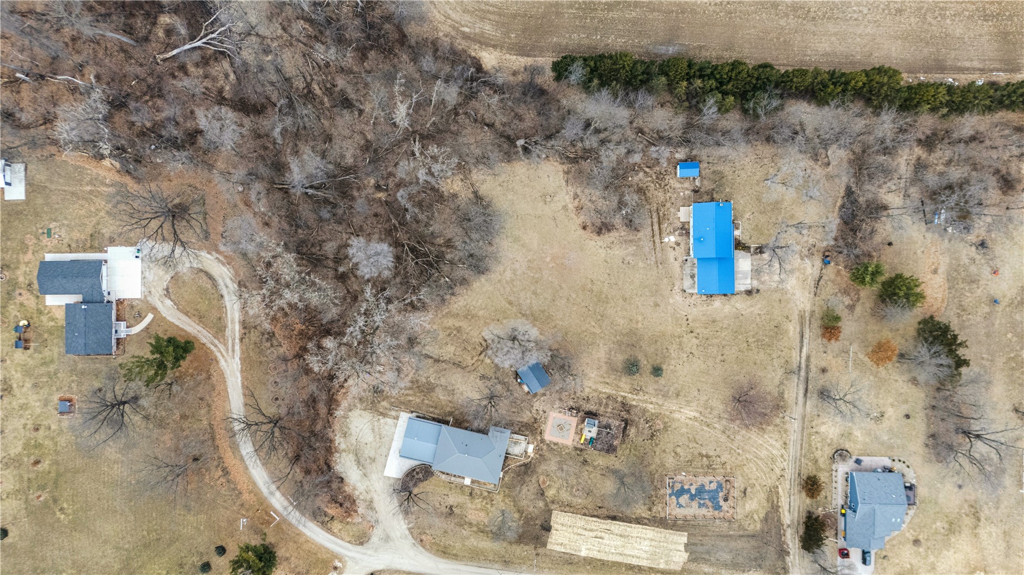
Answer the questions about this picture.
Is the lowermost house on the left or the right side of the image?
right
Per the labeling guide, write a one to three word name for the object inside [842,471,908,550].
house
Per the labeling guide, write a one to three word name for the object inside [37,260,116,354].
house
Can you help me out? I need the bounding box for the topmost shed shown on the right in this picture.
[677,161,699,178]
